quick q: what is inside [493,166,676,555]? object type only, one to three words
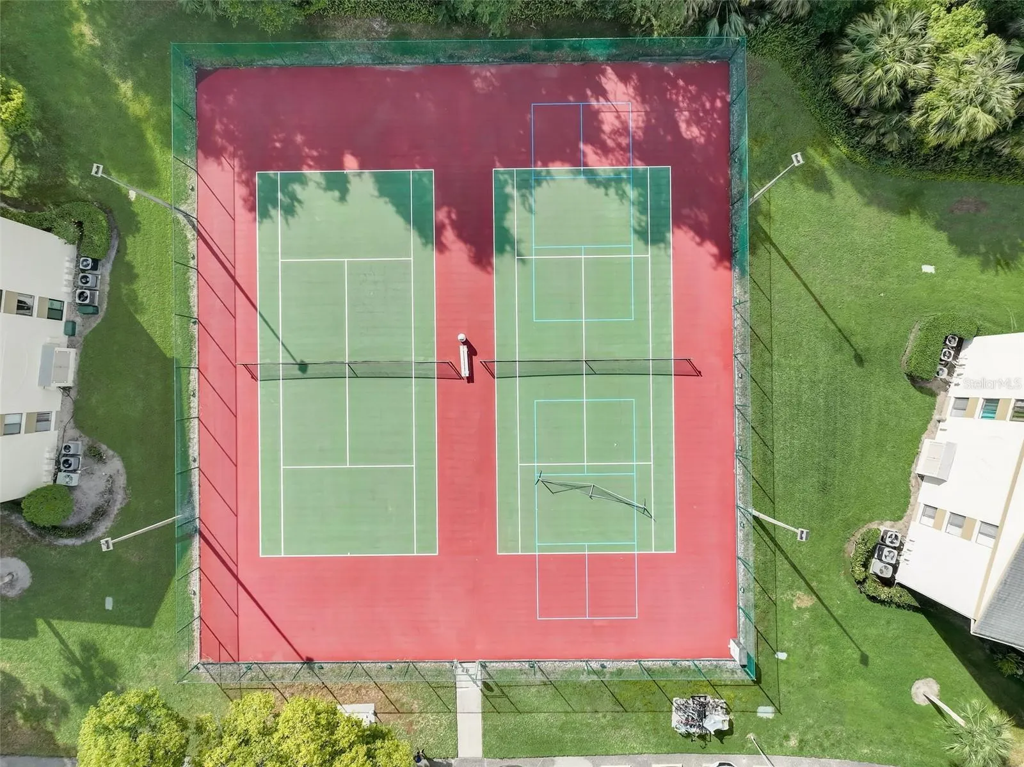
tennis court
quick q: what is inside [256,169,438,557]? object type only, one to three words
tennis court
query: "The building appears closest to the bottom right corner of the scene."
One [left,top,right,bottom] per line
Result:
[895,331,1024,645]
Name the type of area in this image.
sports ground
